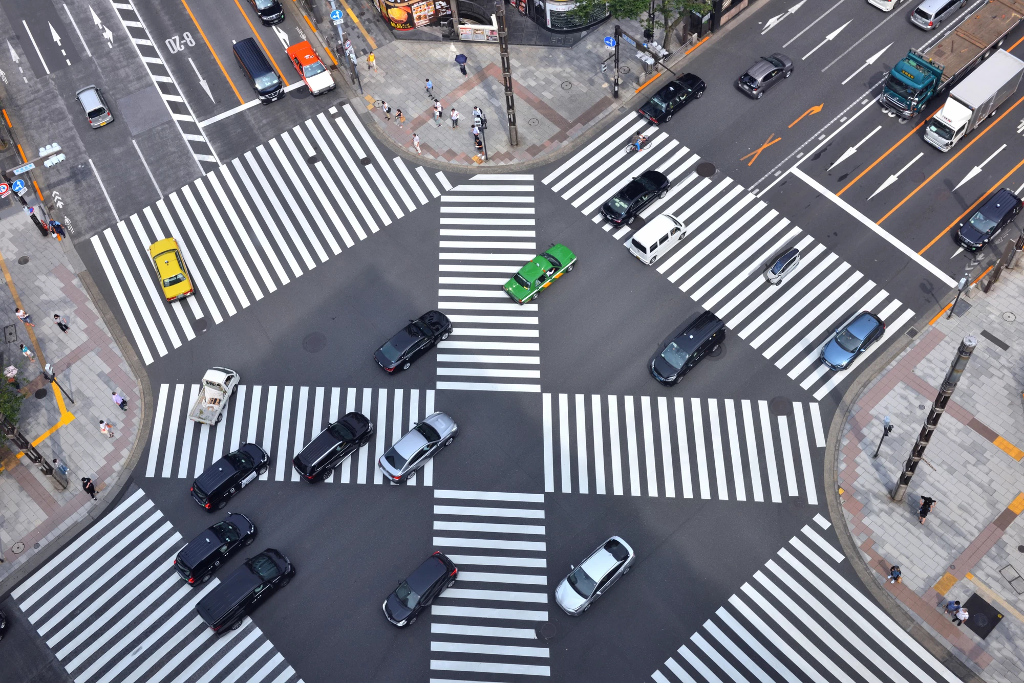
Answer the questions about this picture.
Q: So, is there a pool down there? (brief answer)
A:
No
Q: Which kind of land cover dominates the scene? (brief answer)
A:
paved ground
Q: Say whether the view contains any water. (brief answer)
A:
No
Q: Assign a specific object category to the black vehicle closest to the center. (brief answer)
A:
car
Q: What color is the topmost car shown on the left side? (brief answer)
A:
black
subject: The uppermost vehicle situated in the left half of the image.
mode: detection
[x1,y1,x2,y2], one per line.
[243,0,283,27]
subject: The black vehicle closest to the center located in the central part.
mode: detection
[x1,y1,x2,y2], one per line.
[375,312,453,376]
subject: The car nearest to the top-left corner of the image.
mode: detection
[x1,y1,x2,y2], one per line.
[75,87,113,130]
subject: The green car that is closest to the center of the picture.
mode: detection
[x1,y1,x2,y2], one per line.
[504,244,578,306]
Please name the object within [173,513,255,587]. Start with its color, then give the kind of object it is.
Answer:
black car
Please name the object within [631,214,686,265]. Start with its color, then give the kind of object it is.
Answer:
white van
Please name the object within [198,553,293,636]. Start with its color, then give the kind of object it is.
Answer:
black car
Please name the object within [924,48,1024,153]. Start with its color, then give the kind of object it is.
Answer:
white truck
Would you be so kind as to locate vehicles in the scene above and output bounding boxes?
[375,312,453,376]
[958,190,1022,254]
[557,536,636,617]
[198,553,293,636]
[287,43,335,98]
[378,413,457,483]
[189,443,269,511]
[602,172,672,229]
[911,0,969,31]
[504,244,578,306]
[233,41,282,104]
[151,236,194,304]
[924,48,1024,153]
[173,513,255,587]
[651,311,725,384]
[292,414,375,487]
[631,214,686,265]
[880,0,1024,121]
[75,87,113,130]
[640,74,708,126]
[819,307,887,372]
[382,551,460,630]
[243,0,283,27]
[189,368,242,426]
[739,55,793,99]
